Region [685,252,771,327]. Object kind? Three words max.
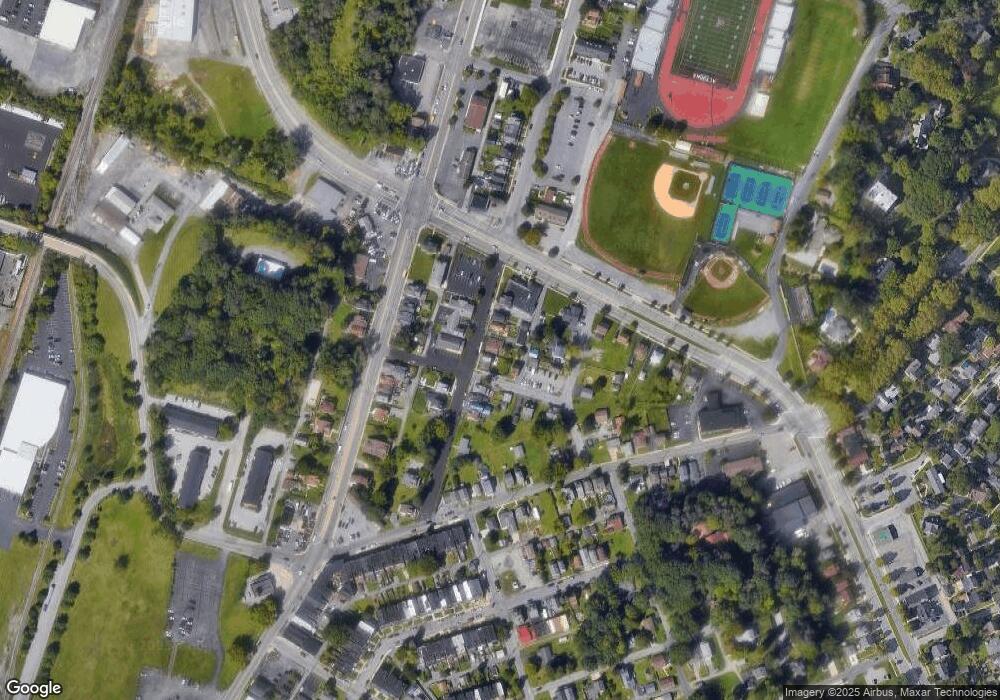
baseball field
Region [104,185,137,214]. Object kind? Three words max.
shed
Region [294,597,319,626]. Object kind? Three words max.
building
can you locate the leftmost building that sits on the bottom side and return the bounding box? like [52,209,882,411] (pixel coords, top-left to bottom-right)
[0,372,66,494]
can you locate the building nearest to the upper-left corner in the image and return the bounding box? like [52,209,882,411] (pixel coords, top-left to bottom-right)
[39,0,95,49]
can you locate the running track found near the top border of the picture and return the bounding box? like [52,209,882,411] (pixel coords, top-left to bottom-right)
[660,0,771,129]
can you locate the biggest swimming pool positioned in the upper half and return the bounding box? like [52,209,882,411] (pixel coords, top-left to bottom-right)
[256,257,285,279]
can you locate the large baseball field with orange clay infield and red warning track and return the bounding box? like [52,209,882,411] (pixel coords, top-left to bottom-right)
[582,129,728,279]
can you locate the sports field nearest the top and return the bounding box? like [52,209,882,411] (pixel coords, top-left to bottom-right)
[673,0,760,90]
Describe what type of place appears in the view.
residential area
